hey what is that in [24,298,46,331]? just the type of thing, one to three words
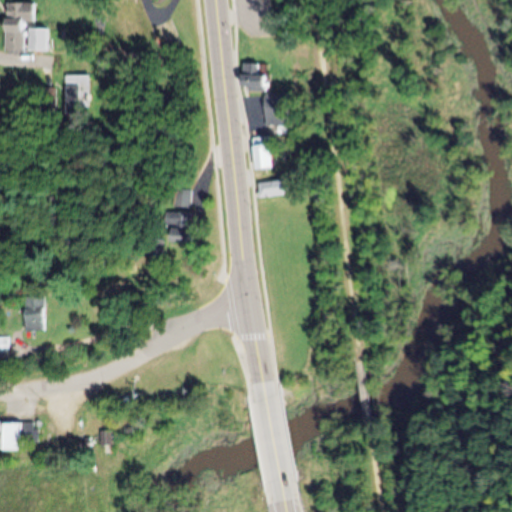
house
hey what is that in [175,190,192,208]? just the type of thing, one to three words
building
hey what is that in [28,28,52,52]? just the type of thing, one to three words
building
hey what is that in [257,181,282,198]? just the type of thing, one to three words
house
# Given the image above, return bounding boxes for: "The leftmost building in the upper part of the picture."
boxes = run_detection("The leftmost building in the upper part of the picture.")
[4,2,36,54]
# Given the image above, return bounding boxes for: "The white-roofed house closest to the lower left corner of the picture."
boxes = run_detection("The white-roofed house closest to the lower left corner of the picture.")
[0,422,40,451]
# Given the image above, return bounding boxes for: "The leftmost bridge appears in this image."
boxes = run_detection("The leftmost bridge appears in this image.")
[248,382,302,503]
